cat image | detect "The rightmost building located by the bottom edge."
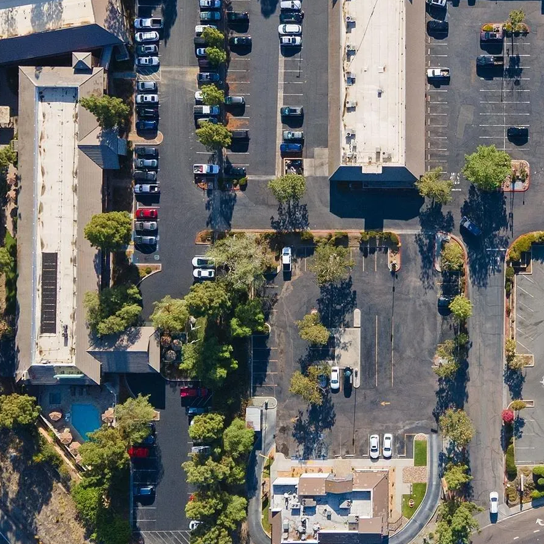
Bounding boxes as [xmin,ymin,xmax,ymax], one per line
[271,468,389,544]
